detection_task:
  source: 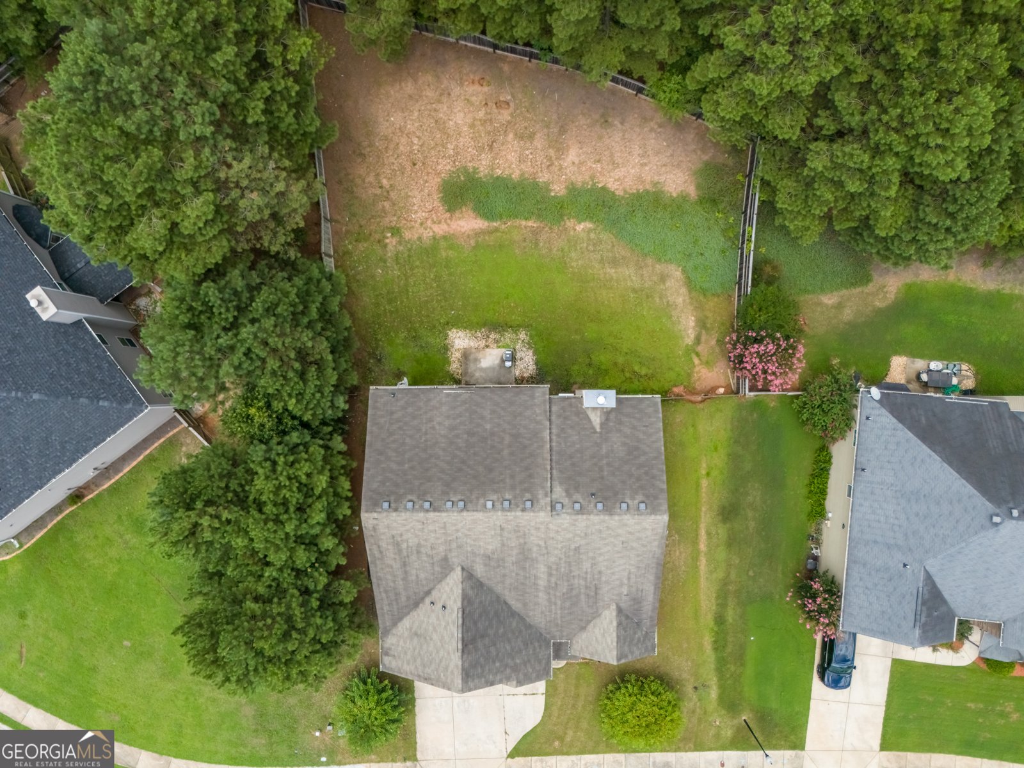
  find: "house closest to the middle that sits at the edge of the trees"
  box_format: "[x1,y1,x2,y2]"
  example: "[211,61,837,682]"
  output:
[361,385,668,693]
